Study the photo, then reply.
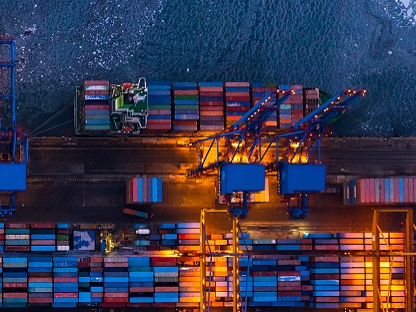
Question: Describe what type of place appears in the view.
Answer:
port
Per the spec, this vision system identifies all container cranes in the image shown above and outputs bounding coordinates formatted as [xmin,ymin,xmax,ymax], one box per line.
[0,36,29,223]
[177,97,298,223]
[337,209,416,312]
[241,97,369,223]
[178,209,251,312]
